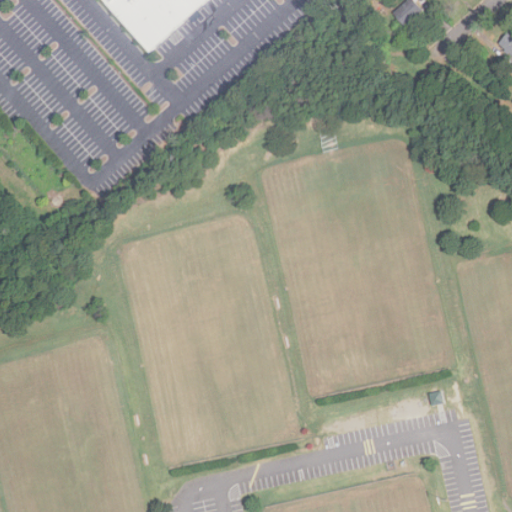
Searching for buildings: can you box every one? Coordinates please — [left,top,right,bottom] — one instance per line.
[498,30,512,58]
[101,0,212,54]
[393,0,422,25]
[428,390,443,406]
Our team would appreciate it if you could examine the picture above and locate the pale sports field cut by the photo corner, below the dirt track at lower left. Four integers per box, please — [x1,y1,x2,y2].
[0,337,144,512]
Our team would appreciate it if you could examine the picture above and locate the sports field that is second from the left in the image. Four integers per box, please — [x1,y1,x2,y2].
[121,216,298,466]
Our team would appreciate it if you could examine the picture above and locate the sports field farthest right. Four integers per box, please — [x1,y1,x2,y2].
[457,255,512,512]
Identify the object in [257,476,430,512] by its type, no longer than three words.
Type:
sports field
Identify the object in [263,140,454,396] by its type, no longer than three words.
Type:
sports field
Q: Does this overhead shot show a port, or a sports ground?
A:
sports ground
